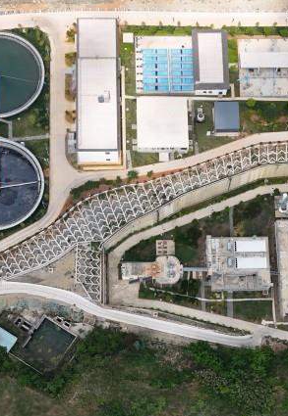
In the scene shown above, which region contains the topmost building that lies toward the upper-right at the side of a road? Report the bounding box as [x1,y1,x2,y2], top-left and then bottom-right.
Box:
[193,28,230,97]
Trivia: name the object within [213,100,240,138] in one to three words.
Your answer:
shed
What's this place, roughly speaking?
industrial area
